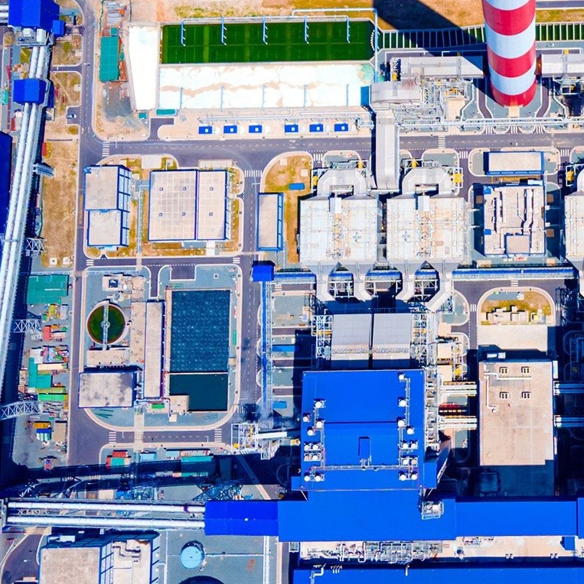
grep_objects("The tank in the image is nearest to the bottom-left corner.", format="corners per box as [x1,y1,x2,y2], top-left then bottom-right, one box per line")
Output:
[179,541,208,571]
